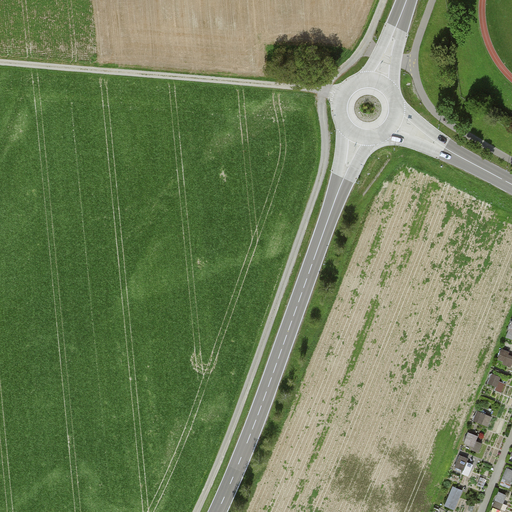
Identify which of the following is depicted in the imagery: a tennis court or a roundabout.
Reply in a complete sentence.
There is a roundabout in the scene.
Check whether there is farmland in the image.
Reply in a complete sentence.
Yes, some farmland is visible.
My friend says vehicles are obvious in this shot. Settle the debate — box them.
[437,134,448,143]
[391,136,404,142]
[440,152,452,159]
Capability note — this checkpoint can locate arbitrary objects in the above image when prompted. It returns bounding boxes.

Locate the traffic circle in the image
[330,23,449,182]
